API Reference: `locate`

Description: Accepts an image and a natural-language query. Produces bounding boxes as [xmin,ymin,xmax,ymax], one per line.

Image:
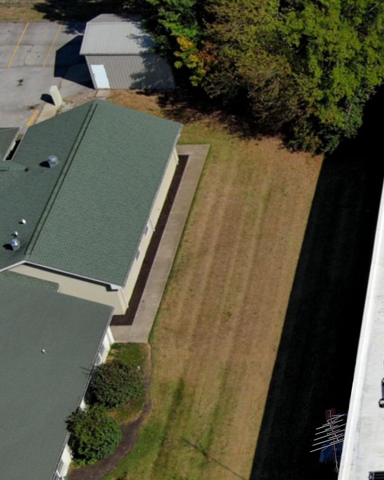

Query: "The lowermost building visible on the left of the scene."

[0,98,185,480]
